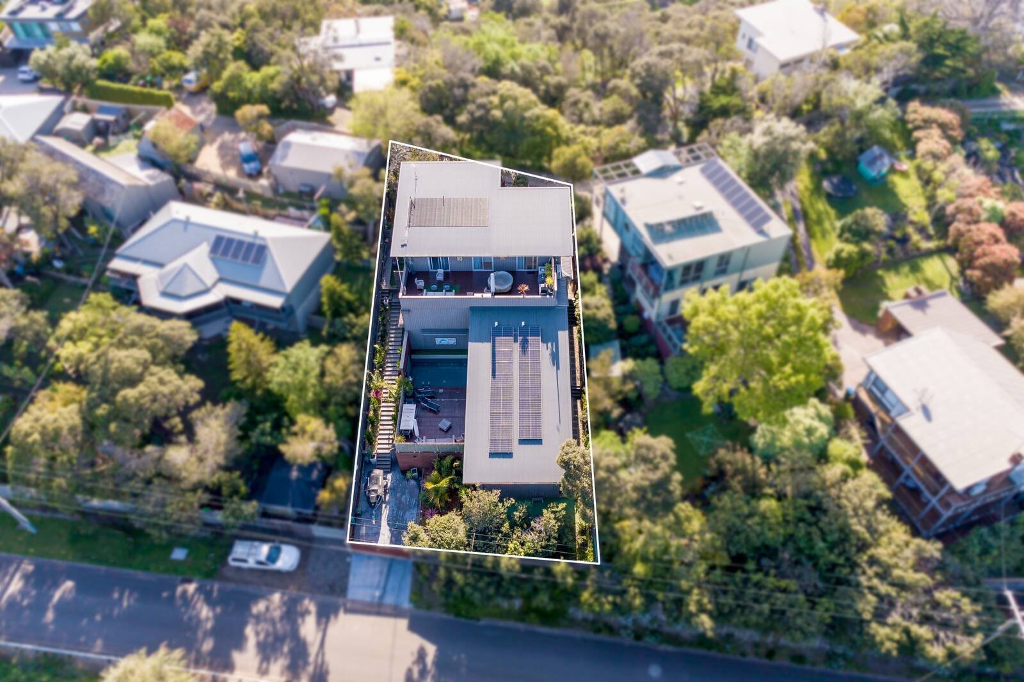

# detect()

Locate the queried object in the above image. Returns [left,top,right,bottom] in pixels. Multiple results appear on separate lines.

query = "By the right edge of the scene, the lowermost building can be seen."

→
[844,326,1024,542]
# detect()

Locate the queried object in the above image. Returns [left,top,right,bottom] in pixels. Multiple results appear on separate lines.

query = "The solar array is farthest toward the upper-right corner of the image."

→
[700,161,774,228]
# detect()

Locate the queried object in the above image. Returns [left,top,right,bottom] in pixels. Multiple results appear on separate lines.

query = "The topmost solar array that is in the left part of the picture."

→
[209,235,259,264]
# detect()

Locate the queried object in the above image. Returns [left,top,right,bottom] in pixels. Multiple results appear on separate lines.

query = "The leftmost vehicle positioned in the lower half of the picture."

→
[221,534,300,572]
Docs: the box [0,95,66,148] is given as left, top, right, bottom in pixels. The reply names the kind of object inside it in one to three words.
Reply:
building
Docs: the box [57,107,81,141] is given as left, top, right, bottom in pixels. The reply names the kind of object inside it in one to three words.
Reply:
shed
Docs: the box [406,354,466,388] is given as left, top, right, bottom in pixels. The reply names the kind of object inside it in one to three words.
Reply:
swimming pool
